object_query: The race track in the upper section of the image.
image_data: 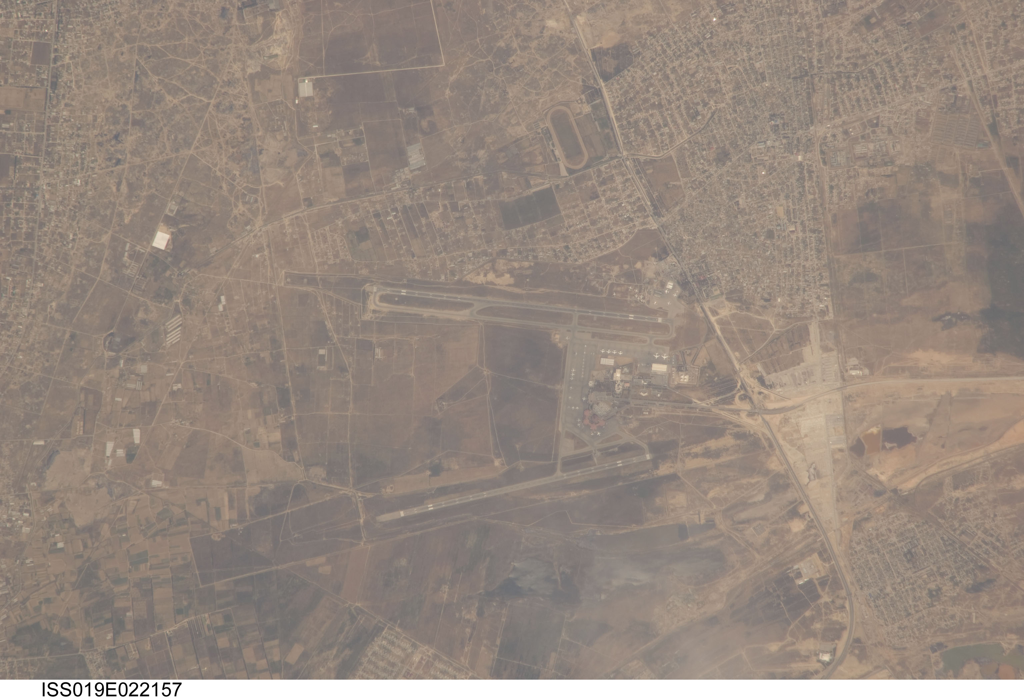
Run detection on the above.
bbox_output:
[547,106,589,169]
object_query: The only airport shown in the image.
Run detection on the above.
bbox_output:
[366,254,684,522]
